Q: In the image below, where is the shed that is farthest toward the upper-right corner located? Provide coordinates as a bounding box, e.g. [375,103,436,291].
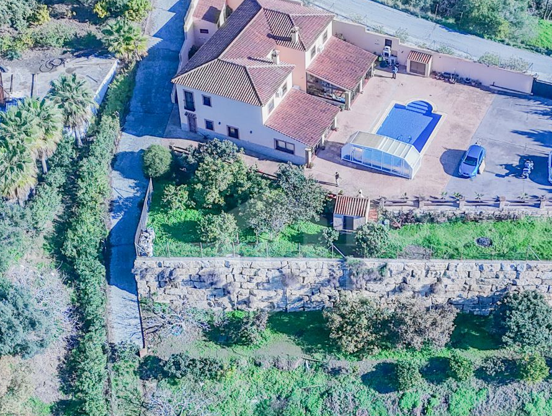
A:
[406,48,431,74]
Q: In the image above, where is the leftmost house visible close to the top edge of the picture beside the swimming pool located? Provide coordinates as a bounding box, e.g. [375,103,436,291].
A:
[166,0,378,164]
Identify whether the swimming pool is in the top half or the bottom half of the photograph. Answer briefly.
top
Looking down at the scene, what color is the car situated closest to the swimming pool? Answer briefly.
blue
